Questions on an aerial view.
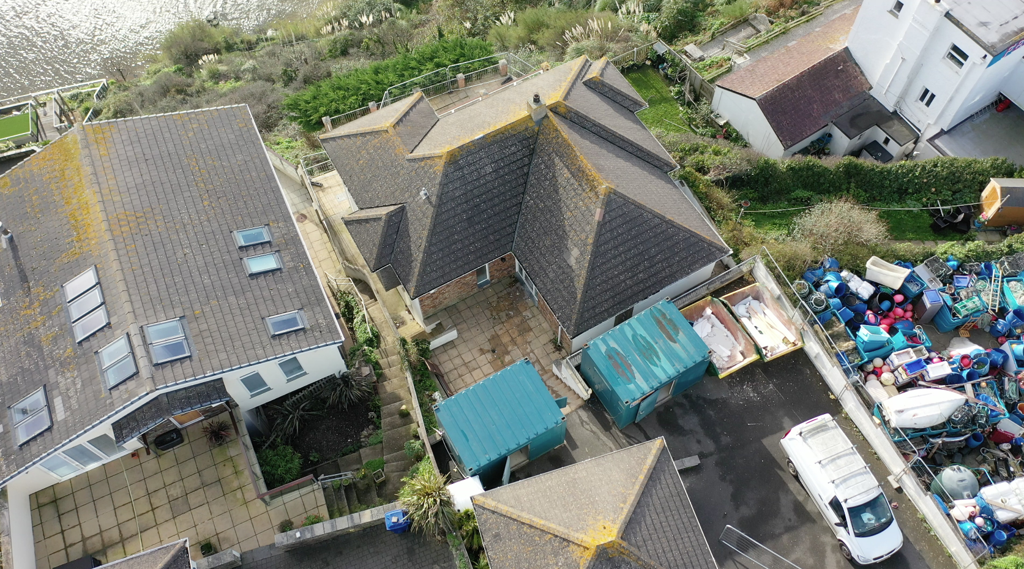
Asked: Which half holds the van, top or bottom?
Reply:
bottom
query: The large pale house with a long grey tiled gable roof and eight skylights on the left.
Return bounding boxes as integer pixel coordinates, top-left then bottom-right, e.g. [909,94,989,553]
[0,104,351,509]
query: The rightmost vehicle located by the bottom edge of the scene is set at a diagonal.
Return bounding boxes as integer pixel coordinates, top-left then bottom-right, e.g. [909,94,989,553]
[782,417,908,569]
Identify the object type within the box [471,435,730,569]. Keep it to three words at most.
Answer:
building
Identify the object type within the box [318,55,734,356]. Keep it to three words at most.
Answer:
house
